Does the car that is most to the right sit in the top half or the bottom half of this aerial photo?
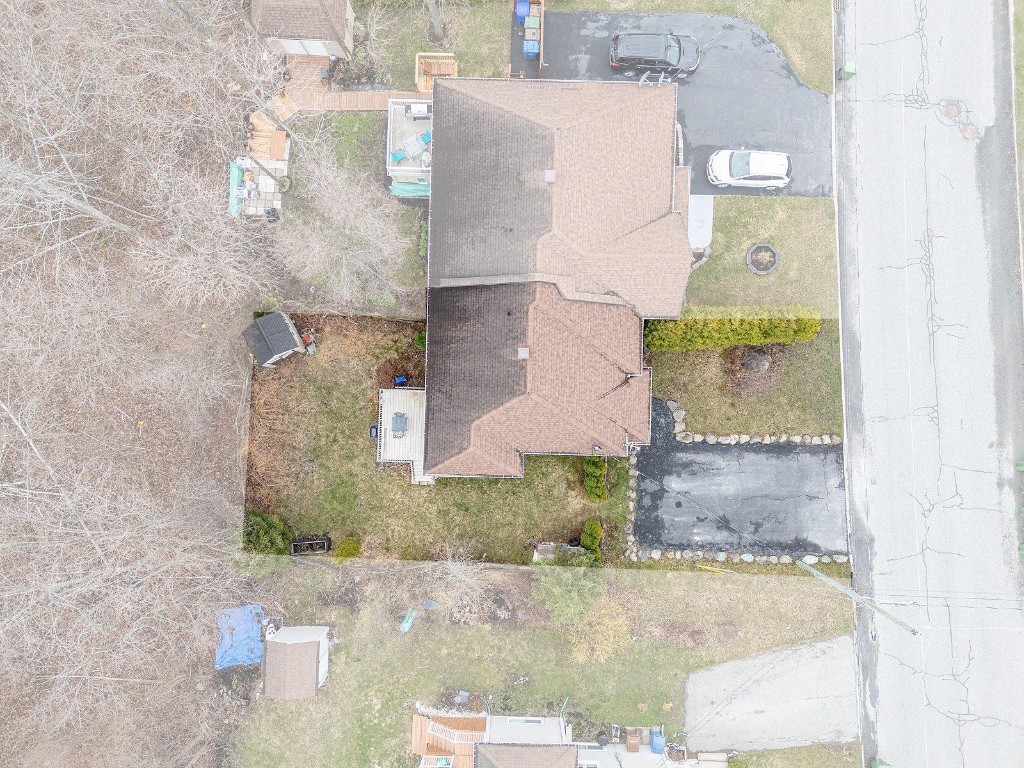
top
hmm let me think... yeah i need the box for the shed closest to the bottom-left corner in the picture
[263,626,329,699]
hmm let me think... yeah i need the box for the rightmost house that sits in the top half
[424,71,693,478]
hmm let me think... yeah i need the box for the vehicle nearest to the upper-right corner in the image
[706,143,796,190]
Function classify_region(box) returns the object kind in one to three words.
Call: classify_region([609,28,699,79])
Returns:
car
